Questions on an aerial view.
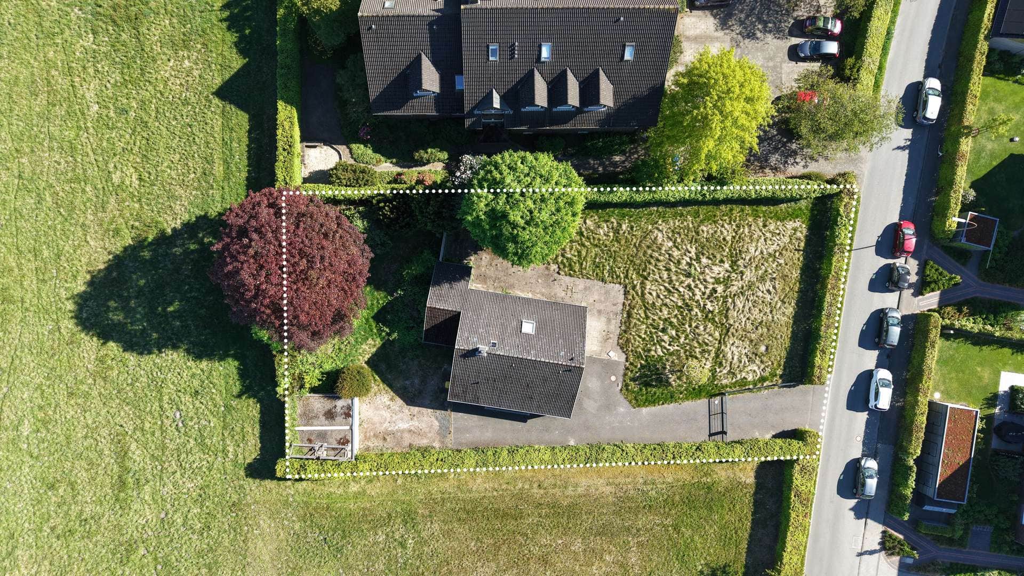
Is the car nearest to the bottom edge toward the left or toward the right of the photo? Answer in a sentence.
It is on the right.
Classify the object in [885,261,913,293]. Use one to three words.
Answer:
car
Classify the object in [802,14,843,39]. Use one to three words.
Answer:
car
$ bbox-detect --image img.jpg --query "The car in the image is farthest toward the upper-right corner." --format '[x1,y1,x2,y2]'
[913,79,944,125]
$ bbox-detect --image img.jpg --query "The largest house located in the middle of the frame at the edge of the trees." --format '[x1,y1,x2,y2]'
[423,260,590,419]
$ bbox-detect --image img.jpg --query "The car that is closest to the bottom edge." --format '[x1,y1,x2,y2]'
[851,456,880,501]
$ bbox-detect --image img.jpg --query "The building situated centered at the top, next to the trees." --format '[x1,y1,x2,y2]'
[357,0,680,157]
